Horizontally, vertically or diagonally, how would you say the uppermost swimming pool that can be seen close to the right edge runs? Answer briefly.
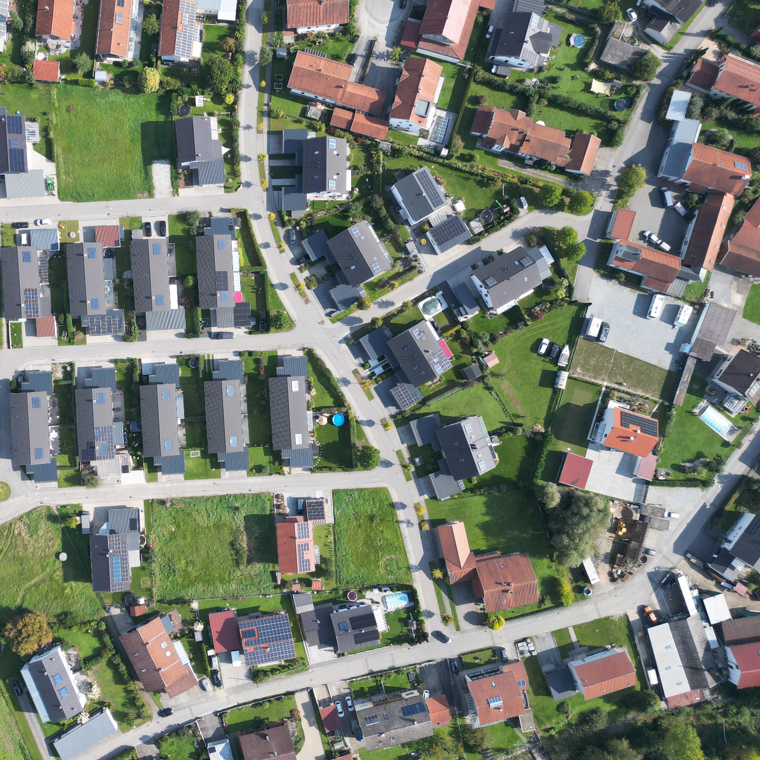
diagonally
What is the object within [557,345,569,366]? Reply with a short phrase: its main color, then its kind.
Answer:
white boat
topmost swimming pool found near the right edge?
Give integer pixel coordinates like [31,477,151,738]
[696,402,738,439]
